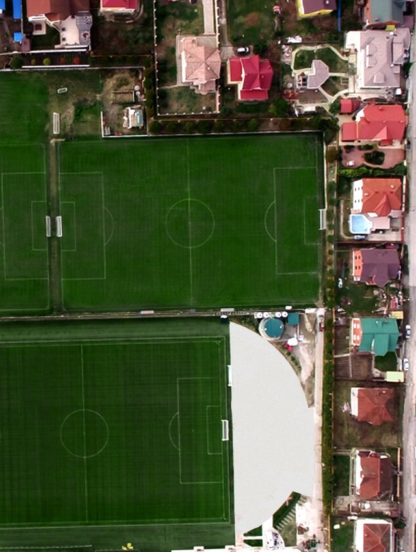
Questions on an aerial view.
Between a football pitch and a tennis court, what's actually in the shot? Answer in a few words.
football pitch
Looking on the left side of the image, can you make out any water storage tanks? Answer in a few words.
No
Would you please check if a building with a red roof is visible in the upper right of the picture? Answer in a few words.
Yes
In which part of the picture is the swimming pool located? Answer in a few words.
right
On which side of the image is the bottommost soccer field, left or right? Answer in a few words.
left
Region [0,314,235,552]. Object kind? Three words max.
soccer field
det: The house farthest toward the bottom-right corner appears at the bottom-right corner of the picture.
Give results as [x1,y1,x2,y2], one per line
[355,518,395,552]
